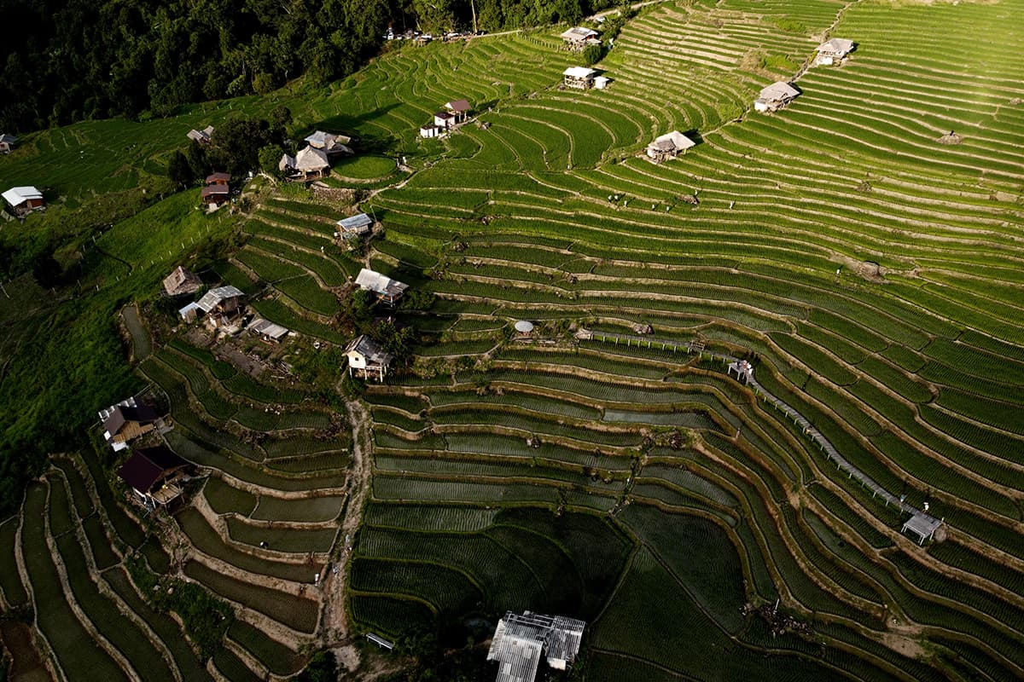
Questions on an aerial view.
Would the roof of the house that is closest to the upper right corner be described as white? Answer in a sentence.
Yes, the roof of the house that is closest to the upper right corner is indeed white.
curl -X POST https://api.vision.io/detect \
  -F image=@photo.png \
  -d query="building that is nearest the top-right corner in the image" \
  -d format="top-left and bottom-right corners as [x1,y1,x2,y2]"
[817,38,857,72]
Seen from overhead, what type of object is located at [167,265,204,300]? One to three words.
shed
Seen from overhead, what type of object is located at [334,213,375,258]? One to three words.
house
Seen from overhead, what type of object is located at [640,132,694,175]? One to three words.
house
